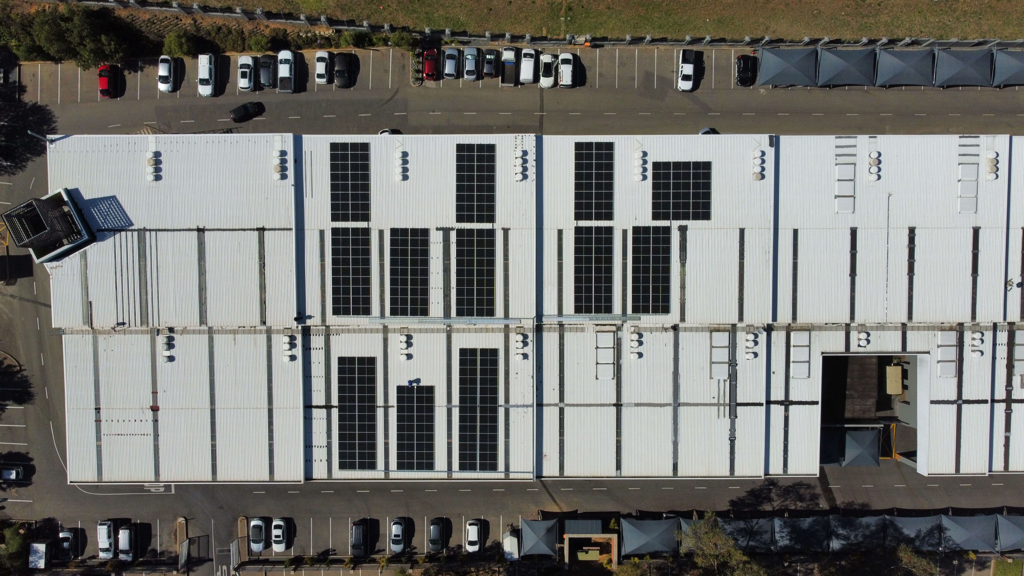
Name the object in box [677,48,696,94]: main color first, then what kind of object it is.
white vehicle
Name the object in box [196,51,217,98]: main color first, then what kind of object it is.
white truck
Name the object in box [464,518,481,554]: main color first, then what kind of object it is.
white car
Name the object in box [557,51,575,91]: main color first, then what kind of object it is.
white car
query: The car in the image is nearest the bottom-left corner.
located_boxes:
[57,526,78,562]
